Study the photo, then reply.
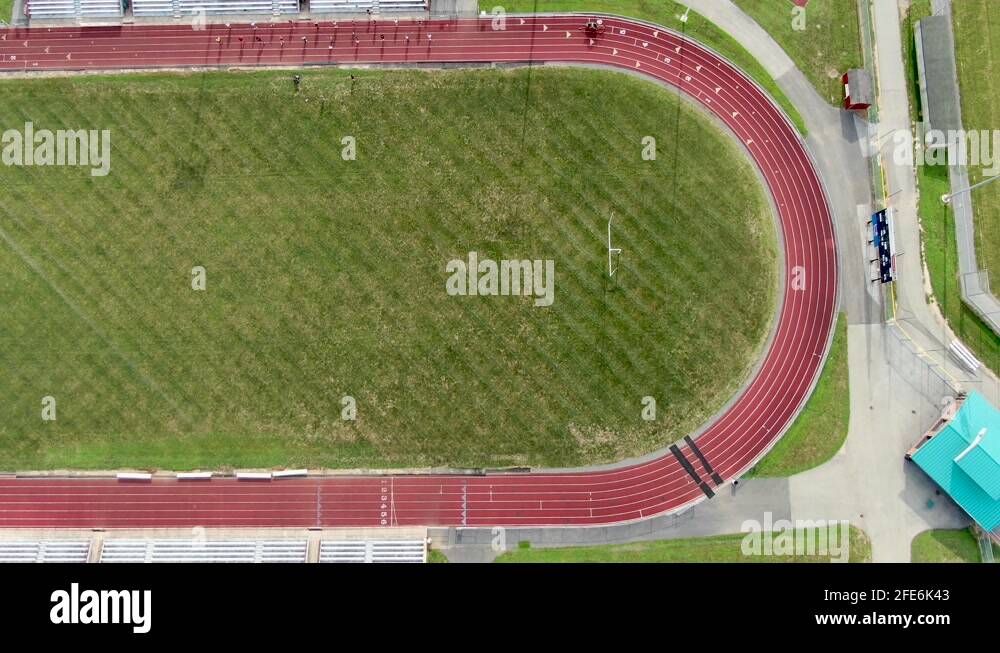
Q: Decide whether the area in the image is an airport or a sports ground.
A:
sports ground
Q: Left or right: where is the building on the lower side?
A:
right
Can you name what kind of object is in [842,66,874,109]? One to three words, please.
shed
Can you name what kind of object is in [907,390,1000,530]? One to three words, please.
building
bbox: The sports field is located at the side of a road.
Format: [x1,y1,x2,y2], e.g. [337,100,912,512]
[0,67,778,469]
